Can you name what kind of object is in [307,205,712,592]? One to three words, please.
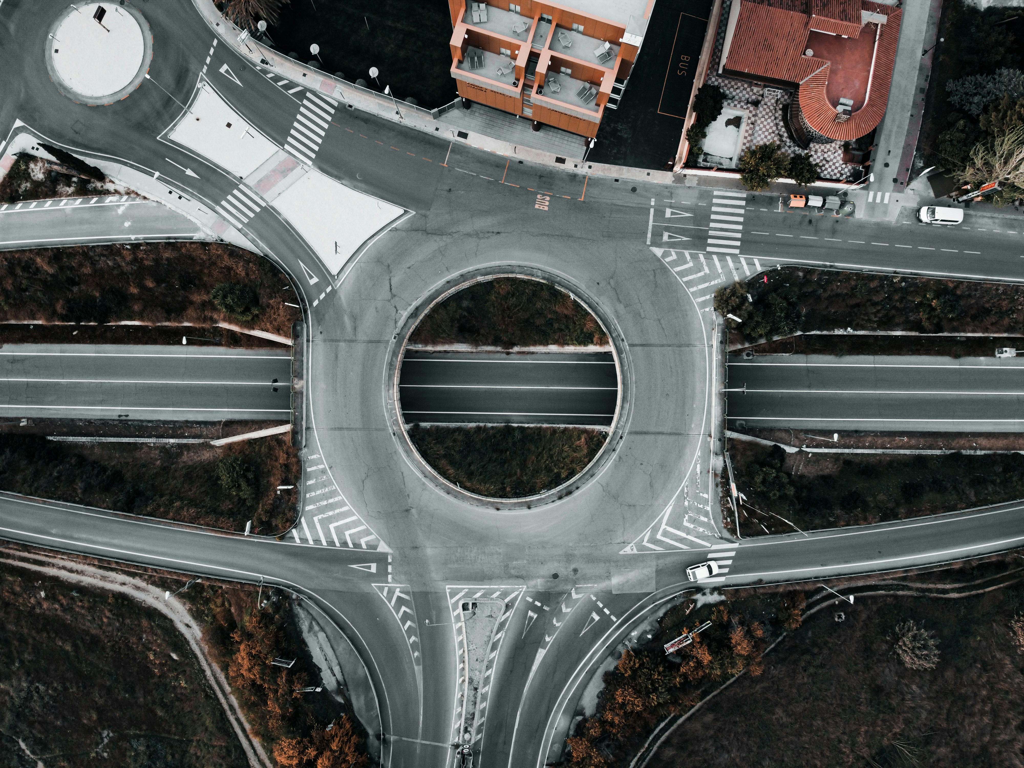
roundabout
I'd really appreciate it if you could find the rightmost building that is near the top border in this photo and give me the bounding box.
[719,0,903,154]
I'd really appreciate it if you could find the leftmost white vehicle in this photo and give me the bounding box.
[685,561,720,583]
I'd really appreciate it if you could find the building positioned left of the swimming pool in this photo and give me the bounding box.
[448,0,656,143]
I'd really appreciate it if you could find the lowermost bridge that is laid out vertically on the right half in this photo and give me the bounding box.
[715,324,730,458]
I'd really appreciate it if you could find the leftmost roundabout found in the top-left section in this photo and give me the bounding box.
[44,0,154,105]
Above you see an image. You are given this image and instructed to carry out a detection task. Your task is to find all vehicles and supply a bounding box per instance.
[685,561,720,583]
[916,204,964,225]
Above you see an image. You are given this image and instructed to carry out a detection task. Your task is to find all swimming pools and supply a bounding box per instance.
[698,106,750,170]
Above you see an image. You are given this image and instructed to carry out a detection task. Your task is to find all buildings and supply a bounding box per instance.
[448,0,656,143]
[719,0,903,154]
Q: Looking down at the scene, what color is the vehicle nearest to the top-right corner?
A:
white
